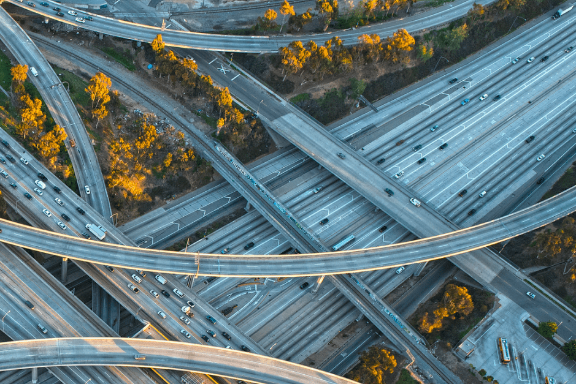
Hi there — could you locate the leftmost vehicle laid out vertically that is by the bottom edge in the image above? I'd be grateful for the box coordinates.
[498,338,510,367]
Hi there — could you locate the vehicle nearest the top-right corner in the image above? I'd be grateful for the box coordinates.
[555,3,571,16]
